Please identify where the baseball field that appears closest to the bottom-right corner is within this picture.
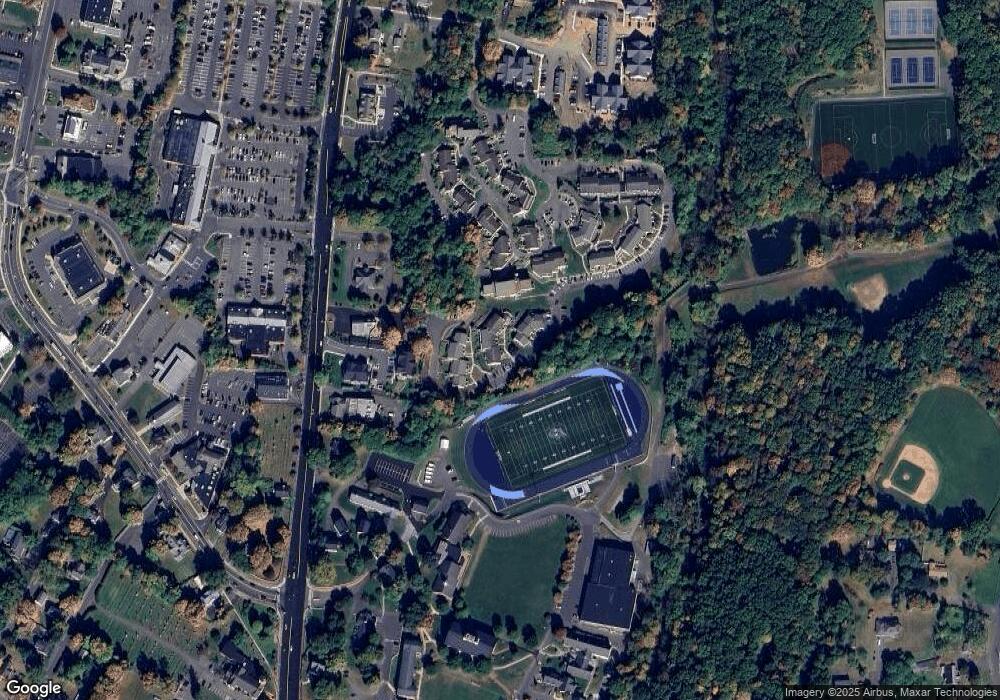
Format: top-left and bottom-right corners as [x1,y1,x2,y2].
[880,387,1000,516]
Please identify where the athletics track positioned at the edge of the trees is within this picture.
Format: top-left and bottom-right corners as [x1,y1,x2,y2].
[465,363,660,511]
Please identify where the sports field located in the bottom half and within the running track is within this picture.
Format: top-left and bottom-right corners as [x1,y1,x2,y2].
[486,377,627,486]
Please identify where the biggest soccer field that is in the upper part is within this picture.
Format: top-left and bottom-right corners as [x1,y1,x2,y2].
[813,97,957,184]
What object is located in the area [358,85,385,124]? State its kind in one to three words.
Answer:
house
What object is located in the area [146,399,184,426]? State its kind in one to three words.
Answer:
shed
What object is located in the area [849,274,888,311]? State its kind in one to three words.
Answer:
baseball field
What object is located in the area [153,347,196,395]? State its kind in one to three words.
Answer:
building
